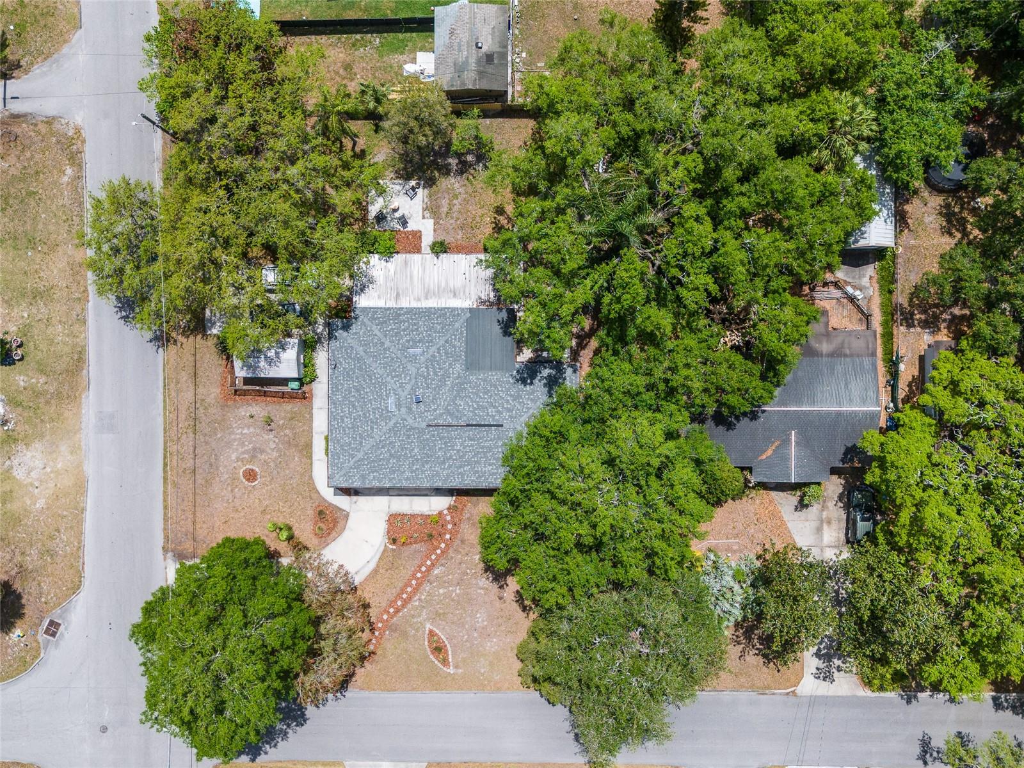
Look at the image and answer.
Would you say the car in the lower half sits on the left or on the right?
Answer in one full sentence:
It is on the right.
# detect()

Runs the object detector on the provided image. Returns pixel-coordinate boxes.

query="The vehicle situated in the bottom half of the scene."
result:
[845,482,877,544]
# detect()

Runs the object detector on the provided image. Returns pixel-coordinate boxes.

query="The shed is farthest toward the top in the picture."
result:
[435,0,509,119]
